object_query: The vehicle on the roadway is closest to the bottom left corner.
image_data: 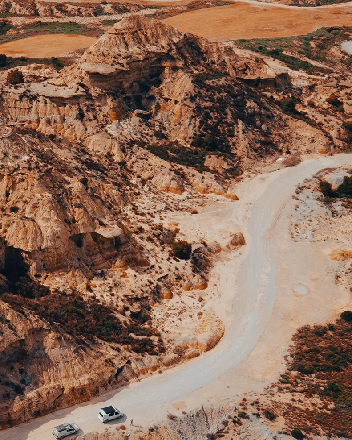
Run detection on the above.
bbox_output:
[53,423,80,438]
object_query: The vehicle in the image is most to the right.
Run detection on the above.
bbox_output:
[98,405,124,423]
